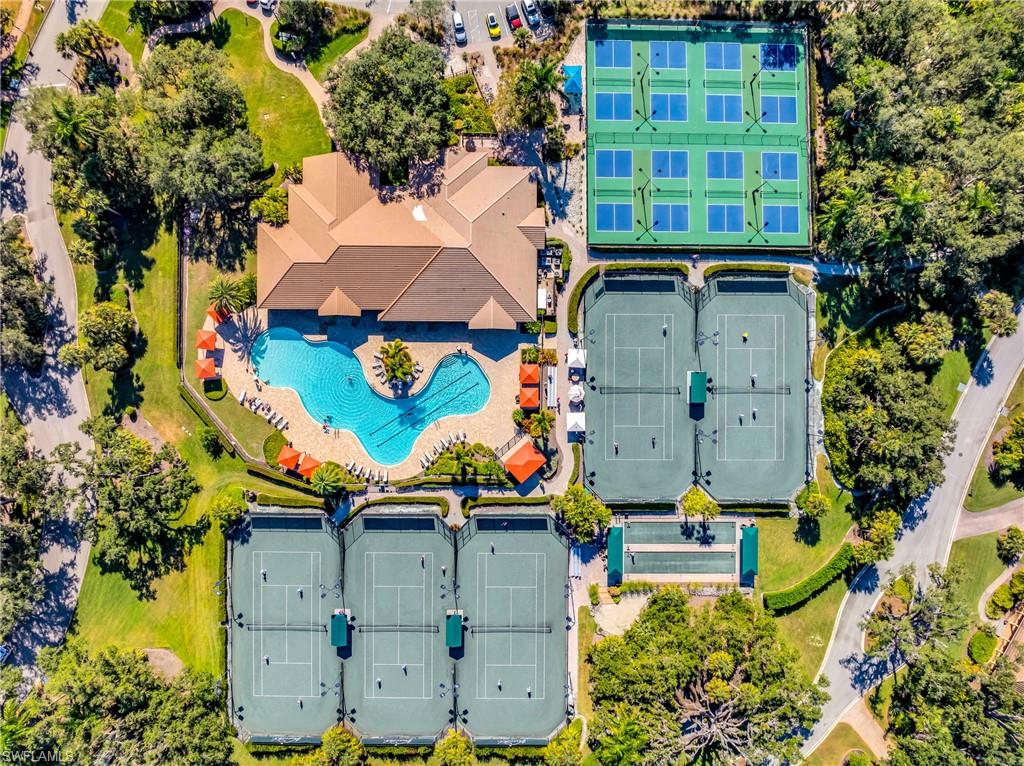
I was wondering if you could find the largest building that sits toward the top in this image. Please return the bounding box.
[256,136,547,330]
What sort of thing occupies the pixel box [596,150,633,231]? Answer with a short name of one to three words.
sports court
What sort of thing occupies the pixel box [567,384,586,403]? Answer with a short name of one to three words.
umbrella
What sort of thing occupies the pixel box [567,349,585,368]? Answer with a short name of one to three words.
tent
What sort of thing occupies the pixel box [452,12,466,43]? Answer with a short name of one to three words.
car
